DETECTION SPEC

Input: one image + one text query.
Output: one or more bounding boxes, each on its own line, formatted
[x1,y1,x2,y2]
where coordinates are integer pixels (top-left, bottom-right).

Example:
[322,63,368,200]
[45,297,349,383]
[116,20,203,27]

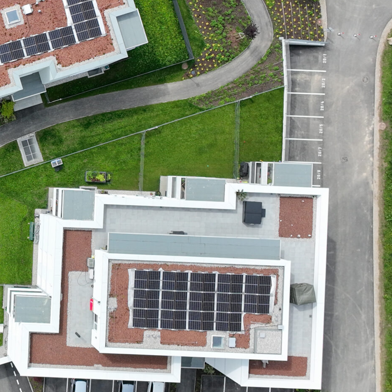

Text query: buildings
[0,0,148,102]
[0,163,329,390]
